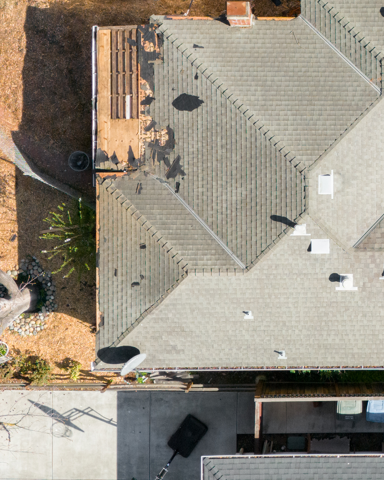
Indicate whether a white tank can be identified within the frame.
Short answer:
No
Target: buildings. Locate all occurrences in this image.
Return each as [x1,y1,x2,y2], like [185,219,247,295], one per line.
[197,451,384,480]
[93,0,384,371]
